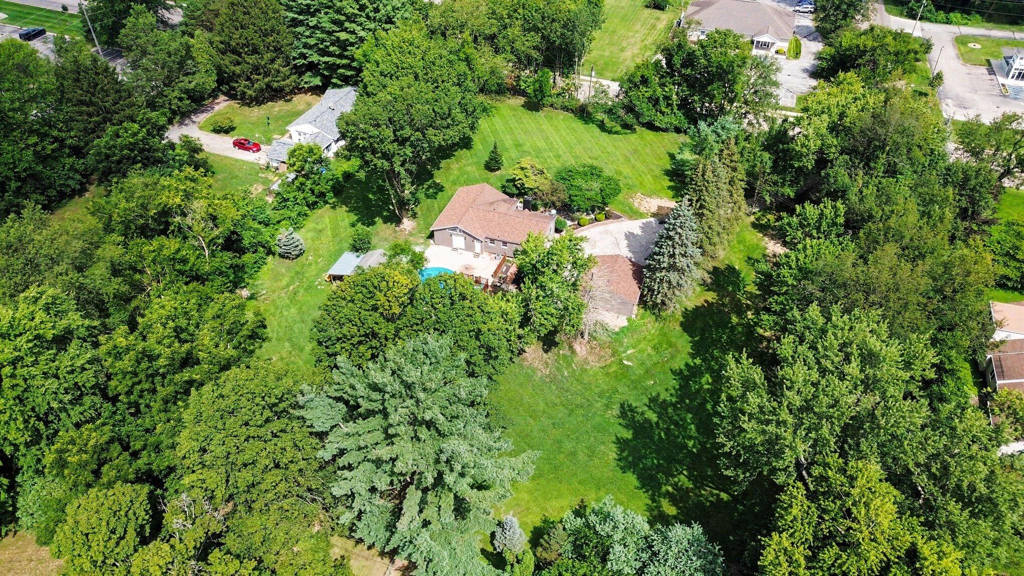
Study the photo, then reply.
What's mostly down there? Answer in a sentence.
For the most part, this view shows trees.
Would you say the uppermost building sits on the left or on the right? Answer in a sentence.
You can find the uppermost building on the right side of the picture.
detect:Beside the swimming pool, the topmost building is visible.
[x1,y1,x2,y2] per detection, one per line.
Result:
[428,182,559,258]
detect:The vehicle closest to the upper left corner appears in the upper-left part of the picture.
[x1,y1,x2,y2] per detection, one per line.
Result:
[16,28,48,41]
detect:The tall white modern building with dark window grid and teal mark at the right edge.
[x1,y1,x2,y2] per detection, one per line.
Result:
[989,36,1024,86]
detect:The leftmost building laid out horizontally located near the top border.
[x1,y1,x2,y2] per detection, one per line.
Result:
[679,0,797,49]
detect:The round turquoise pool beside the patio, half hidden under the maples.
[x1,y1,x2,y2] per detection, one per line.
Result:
[414,269,477,307]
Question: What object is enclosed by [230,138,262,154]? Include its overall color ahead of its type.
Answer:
red car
